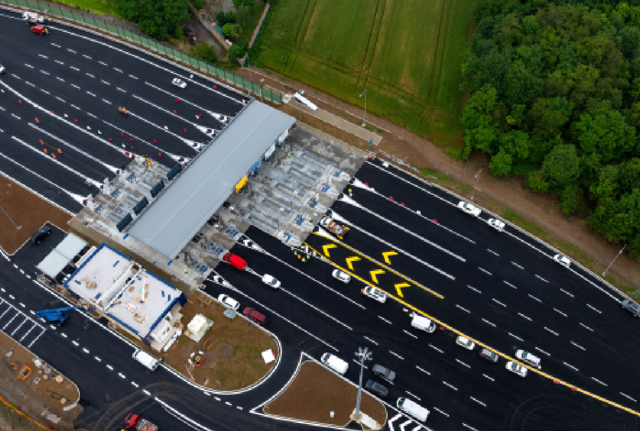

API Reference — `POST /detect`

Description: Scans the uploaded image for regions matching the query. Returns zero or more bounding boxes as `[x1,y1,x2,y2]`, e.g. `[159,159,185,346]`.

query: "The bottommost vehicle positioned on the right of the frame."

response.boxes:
[396,396,431,422]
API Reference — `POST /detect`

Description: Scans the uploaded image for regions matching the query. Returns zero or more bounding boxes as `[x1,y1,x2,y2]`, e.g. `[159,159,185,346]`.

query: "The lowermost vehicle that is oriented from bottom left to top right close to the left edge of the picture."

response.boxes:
[30,225,52,243]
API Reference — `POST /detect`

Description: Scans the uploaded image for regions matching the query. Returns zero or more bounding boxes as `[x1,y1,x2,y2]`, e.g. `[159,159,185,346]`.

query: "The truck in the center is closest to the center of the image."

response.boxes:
[313,209,351,240]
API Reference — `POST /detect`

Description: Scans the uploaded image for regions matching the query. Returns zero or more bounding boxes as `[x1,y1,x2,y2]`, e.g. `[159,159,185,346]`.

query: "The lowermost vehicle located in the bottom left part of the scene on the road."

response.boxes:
[118,404,166,431]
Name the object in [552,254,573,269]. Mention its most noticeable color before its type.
white car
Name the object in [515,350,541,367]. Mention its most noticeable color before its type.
white car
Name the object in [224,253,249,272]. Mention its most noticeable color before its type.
red vehicle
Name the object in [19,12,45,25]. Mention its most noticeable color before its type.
white vehicle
